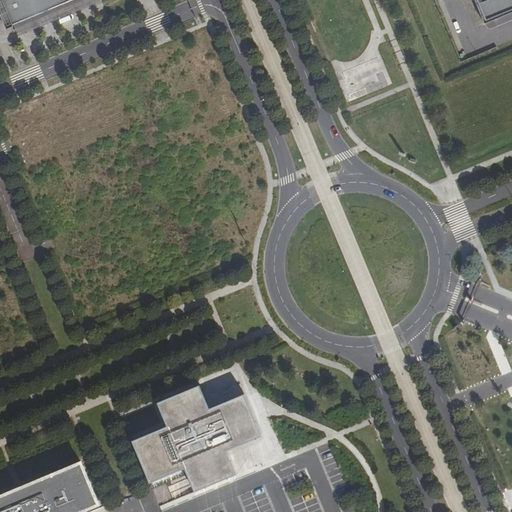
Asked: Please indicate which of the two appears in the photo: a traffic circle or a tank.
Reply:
traffic circle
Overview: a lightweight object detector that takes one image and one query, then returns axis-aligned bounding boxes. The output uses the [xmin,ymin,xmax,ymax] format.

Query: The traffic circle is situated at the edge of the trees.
[264,172,452,356]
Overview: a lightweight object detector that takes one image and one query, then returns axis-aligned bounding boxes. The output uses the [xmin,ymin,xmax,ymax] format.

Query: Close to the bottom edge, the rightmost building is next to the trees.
[130,386,260,508]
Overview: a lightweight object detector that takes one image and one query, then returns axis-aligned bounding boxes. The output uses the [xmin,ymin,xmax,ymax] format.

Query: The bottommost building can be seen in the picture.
[0,462,100,512]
